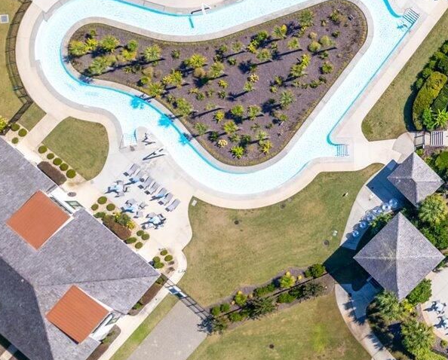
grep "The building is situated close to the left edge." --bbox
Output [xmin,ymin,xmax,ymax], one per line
[0,131,165,360]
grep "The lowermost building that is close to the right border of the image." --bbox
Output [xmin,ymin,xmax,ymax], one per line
[353,213,443,299]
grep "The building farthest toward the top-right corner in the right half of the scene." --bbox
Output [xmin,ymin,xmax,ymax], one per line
[387,153,443,205]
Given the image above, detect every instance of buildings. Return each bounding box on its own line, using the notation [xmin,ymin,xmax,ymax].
[387,153,443,205]
[353,213,443,299]
[0,131,165,360]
